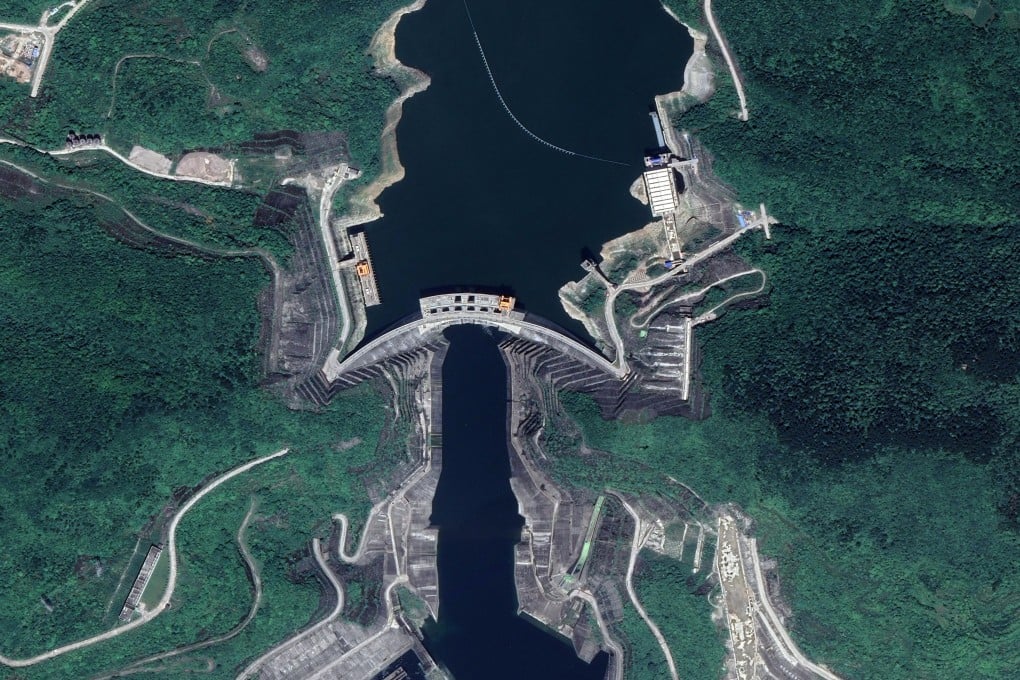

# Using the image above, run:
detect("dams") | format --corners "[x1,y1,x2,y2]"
[325,293,631,382]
